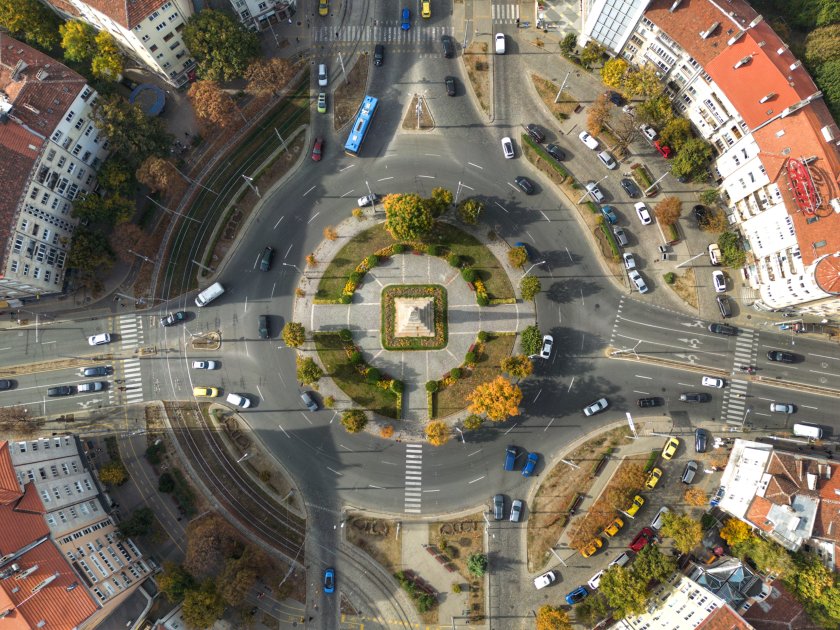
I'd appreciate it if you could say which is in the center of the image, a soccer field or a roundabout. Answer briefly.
roundabout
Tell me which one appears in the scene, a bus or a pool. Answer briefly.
bus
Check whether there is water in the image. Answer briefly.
No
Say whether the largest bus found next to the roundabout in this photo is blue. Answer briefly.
Yes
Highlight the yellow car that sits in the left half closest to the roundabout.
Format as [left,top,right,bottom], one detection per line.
[194,386,219,399]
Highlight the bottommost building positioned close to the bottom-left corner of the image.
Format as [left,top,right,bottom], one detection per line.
[0,515,157,630]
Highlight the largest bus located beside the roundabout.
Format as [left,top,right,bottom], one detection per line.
[340,95,383,161]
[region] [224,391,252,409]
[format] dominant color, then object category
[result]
white vehicle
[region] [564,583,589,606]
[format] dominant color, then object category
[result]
blue car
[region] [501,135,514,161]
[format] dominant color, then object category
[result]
white vehicle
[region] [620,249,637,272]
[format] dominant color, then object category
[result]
white car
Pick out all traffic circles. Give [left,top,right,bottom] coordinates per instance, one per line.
[212,128,618,530]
